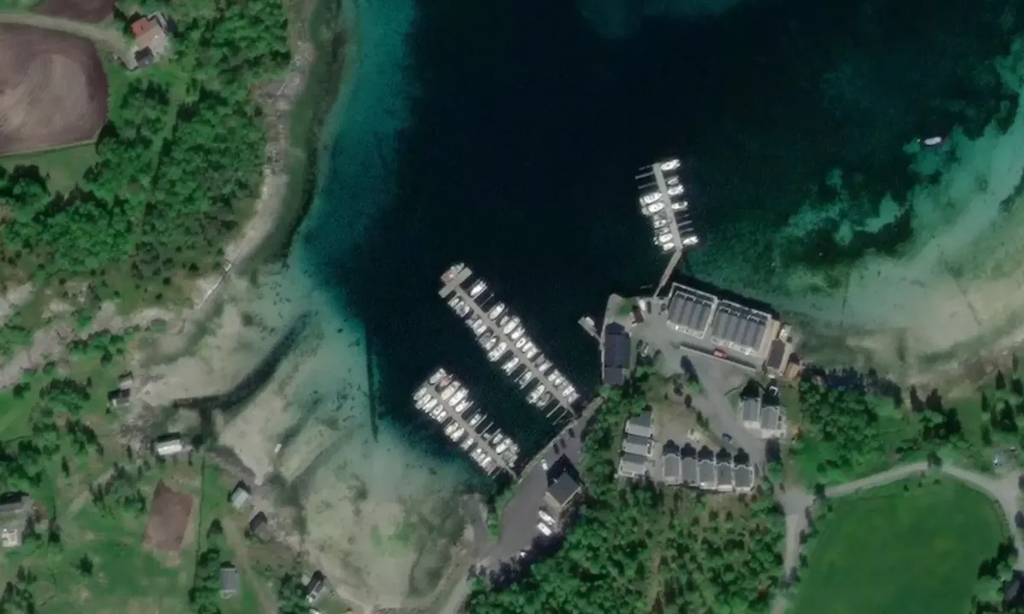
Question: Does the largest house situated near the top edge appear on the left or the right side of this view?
left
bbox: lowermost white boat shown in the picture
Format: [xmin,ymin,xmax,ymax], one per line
[539,511,557,527]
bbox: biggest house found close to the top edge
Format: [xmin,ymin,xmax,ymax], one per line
[130,17,160,48]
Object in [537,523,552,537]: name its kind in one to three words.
vehicle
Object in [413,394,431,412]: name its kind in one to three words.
boat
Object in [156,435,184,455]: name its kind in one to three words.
building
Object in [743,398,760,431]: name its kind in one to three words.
house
